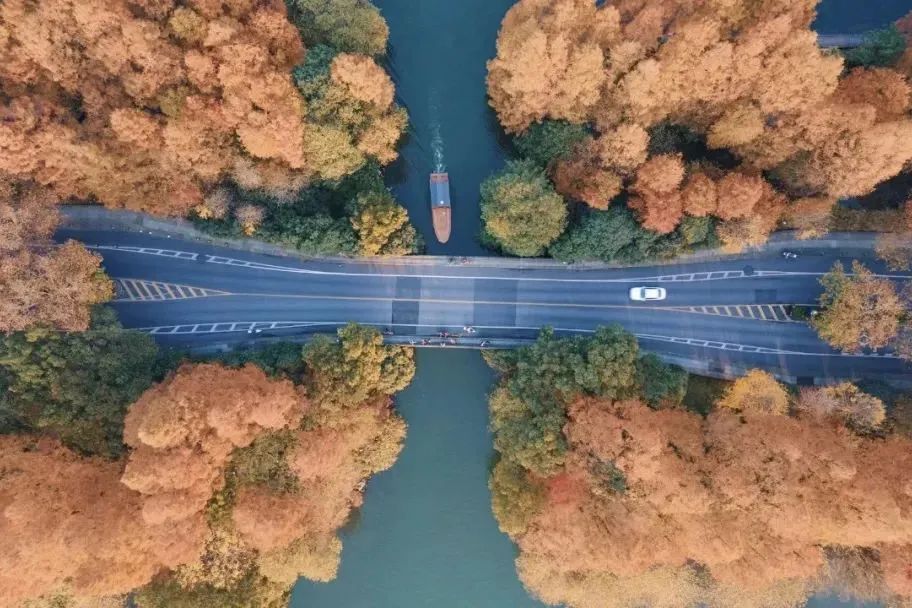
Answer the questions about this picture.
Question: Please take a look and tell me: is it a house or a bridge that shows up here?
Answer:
bridge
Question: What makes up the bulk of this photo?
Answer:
trees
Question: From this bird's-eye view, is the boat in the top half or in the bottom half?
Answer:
top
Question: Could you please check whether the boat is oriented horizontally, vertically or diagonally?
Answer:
vertically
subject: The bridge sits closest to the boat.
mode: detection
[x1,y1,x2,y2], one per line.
[395,256,510,351]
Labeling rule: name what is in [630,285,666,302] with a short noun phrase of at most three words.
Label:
car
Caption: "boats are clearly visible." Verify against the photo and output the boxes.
[430,171,451,243]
